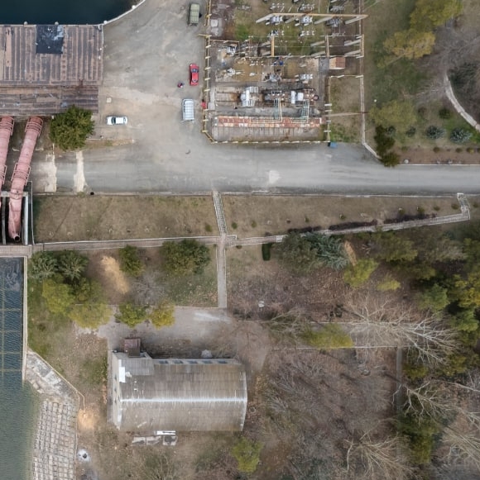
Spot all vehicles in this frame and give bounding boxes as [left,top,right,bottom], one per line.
[187,3,201,26]
[188,63,200,86]
[180,98,193,122]
[107,115,127,124]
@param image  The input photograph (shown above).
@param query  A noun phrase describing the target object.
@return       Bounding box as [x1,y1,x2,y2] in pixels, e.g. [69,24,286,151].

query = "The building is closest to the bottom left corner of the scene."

[112,336,249,431]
